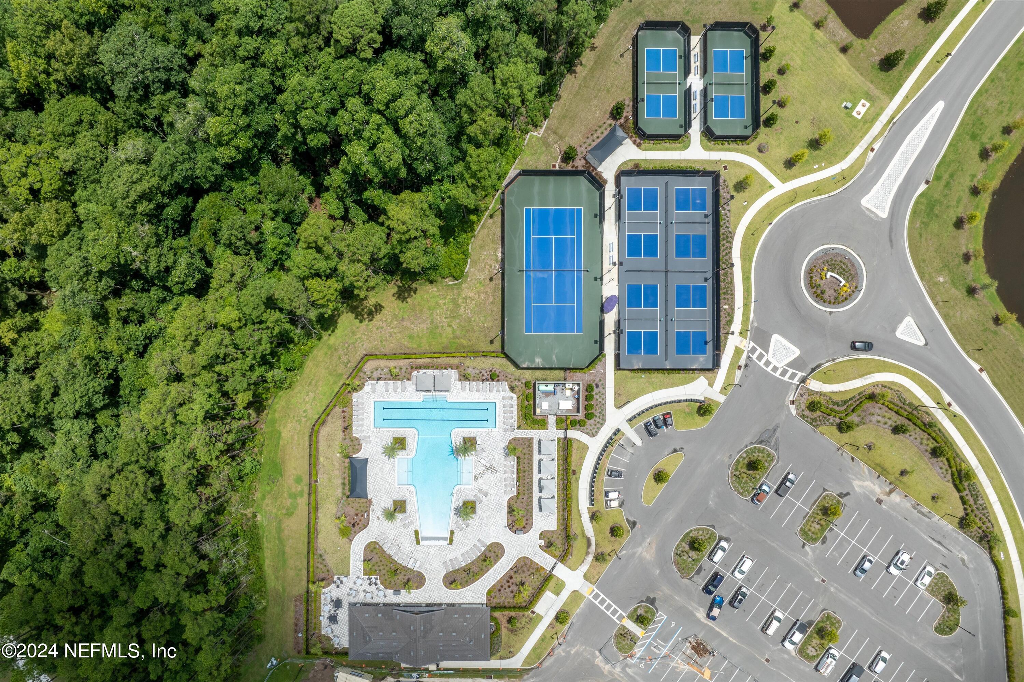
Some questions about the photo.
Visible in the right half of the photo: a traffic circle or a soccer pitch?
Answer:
traffic circle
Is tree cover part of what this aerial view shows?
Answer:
Yes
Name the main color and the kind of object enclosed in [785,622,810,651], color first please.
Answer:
white truck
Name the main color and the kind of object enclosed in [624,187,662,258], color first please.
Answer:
blue sports court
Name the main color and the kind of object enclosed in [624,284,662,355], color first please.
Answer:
blue sports court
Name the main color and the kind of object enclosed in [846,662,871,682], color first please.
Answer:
gray vehicle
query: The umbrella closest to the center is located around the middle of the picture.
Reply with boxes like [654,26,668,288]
[605,294,620,309]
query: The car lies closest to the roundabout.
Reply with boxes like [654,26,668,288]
[851,340,875,352]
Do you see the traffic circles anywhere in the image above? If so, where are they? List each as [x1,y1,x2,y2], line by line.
[801,245,866,310]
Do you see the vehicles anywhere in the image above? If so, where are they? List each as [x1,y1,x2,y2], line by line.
[777,471,801,501]
[710,541,730,566]
[765,612,786,637]
[817,649,841,682]
[709,596,724,623]
[646,423,661,440]
[733,556,755,581]
[916,566,937,591]
[609,470,625,480]
[887,550,911,578]
[851,340,875,352]
[653,416,666,431]
[664,415,675,430]
[753,483,772,506]
[607,491,622,500]
[705,572,726,598]
[730,587,751,612]
[785,622,810,651]
[846,662,871,682]
[855,555,876,579]
[872,652,891,675]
